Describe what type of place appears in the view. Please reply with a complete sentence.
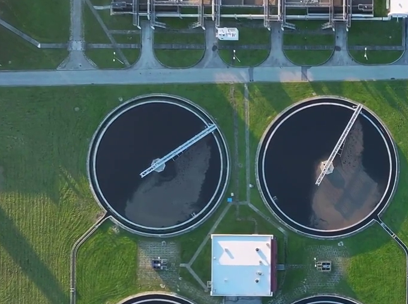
The area seen from above is an industrial area.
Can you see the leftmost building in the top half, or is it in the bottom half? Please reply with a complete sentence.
The bottom half of the photo is where the leftmost building is.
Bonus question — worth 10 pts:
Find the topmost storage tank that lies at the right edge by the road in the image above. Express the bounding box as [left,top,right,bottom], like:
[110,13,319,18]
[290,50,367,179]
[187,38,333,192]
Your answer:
[254,95,400,241]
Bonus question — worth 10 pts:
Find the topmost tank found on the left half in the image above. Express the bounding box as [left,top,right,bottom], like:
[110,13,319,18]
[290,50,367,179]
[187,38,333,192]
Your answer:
[87,93,234,239]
